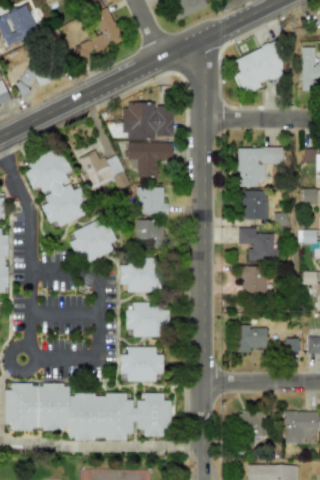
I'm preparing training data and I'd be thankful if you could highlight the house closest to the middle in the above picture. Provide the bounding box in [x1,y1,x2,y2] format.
[136,220,164,246]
